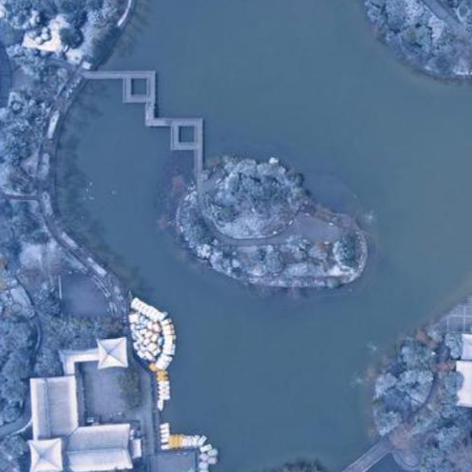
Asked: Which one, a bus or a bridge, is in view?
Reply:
bridge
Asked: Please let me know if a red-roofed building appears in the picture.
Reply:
No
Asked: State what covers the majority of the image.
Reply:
water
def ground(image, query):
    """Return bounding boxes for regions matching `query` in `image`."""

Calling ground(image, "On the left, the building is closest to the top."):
[95,338,131,371]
